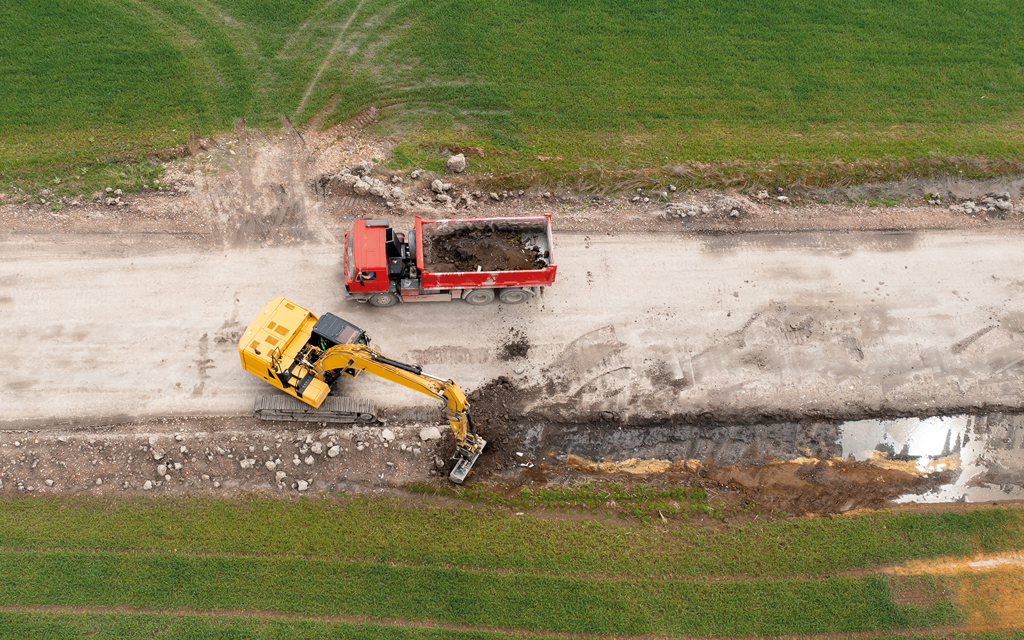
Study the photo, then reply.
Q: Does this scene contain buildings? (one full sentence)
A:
No, this view has no building in it.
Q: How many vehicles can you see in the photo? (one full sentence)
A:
The count of vehicles comes to 2.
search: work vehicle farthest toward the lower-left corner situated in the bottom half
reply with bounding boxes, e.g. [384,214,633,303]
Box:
[237,299,490,481]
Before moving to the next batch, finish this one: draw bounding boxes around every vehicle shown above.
[237,299,490,481]
[343,212,557,306]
